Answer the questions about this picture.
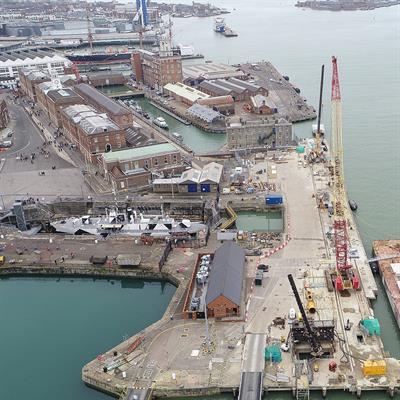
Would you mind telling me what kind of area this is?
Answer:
port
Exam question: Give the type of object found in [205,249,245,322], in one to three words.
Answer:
building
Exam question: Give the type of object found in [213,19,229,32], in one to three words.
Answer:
ship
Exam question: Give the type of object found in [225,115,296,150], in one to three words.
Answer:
building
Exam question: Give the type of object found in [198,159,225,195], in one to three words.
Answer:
shed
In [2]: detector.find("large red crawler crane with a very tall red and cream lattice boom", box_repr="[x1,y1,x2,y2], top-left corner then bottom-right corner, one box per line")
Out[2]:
[320,55,364,304]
